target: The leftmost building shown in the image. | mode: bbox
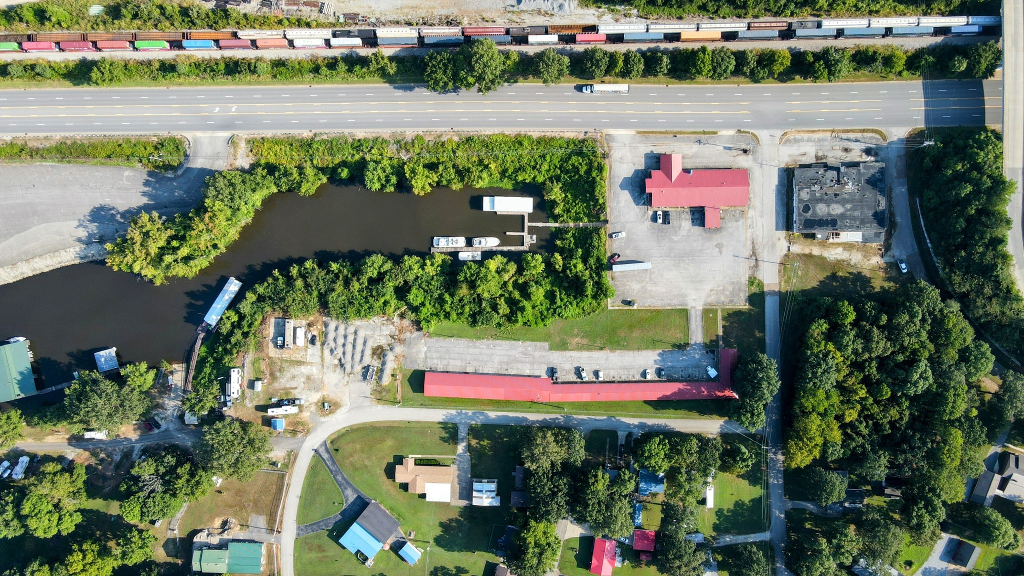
[0,339,44,406]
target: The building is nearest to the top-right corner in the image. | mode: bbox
[791,162,886,244]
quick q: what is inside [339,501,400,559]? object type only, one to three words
house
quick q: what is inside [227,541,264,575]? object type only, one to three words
building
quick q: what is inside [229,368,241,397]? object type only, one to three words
vehicle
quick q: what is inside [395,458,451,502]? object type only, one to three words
house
